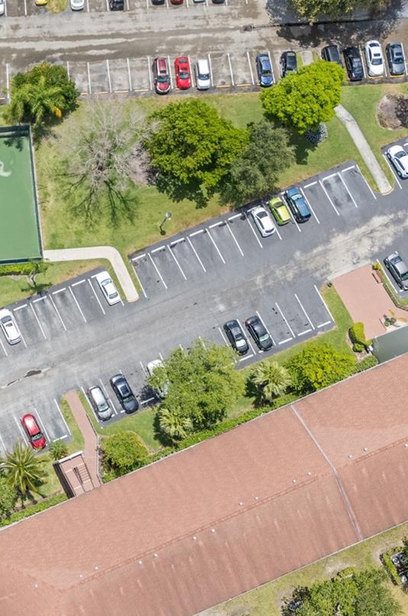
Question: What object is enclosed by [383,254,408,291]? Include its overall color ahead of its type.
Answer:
gray car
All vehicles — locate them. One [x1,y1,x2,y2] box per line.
[255,54,273,87]
[110,374,139,413]
[388,146,408,179]
[87,386,112,422]
[0,309,22,346]
[343,47,365,81]
[69,0,84,11]
[34,0,47,6]
[364,42,384,77]
[383,254,408,291]
[284,187,313,224]
[384,42,406,77]
[267,197,292,229]
[152,59,172,93]
[109,0,124,8]
[278,49,298,73]
[249,205,278,241]
[221,319,250,357]
[95,270,121,308]
[173,56,193,92]
[194,60,212,90]
[20,411,48,452]
[245,315,273,354]
[322,46,342,78]
[0,0,6,16]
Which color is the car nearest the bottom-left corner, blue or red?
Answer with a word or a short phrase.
red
